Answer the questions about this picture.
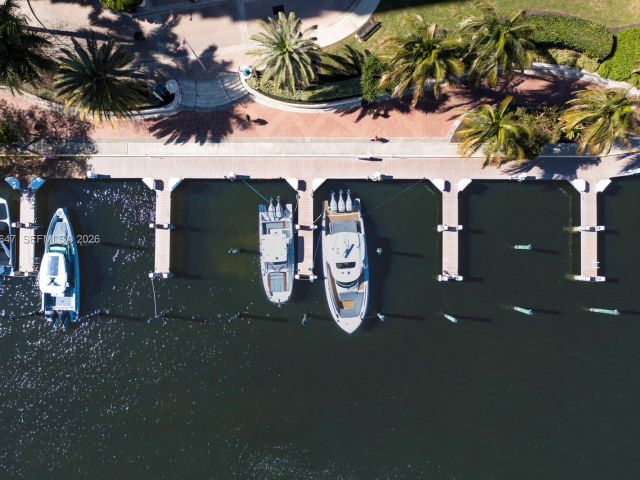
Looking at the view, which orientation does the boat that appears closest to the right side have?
vertically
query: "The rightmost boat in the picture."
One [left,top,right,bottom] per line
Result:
[322,189,368,336]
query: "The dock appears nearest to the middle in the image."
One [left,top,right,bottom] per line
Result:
[285,179,326,281]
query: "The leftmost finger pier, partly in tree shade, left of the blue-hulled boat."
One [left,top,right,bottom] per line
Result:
[8,179,47,274]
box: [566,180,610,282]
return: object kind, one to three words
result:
pier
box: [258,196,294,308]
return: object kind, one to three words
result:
boat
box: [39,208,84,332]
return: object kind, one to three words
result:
boat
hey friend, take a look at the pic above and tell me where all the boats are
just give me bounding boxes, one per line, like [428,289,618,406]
[0,199,19,285]
[322,189,368,336]
[39,208,84,332]
[258,196,294,308]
